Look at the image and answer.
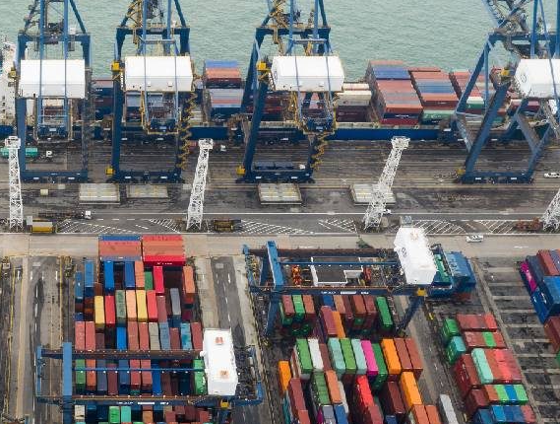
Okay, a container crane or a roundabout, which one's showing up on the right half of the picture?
container crane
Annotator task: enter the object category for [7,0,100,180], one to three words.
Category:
container crane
